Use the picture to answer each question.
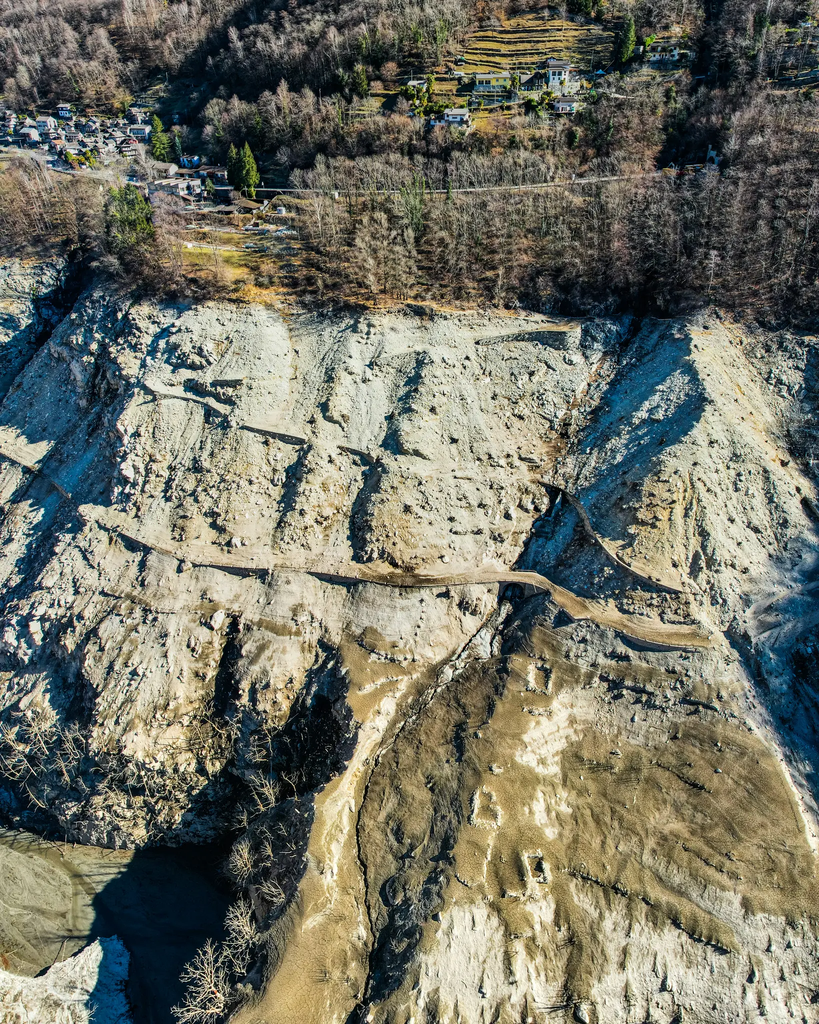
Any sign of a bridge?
Yes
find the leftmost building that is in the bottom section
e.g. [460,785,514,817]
[471,783,508,836]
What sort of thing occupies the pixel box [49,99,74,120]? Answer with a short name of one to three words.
house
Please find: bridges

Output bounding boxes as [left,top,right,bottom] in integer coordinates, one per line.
[484,566,543,607]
